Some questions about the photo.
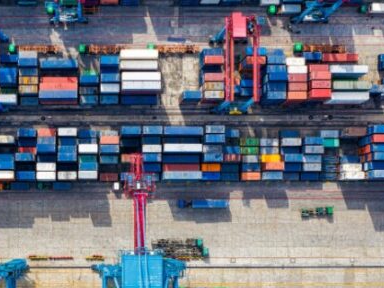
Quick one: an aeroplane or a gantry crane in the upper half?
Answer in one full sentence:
Looking in the upper half, you will find a gantry crane.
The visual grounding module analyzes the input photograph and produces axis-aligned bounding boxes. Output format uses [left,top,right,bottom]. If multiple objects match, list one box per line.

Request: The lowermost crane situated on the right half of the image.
[207,13,260,118]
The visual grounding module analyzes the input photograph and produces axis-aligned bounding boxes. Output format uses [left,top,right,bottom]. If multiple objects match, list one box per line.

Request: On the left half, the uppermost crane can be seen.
[46,0,91,24]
